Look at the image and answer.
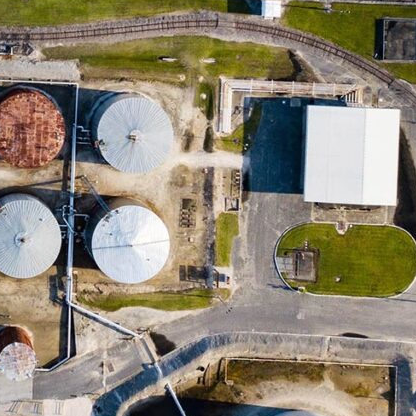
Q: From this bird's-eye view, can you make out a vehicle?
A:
No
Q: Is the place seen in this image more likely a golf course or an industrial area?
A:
industrial area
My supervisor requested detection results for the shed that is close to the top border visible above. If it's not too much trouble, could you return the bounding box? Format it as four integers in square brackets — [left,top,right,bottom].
[259,0,281,19]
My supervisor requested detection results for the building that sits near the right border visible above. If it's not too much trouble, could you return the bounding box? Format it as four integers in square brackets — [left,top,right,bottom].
[299,106,400,206]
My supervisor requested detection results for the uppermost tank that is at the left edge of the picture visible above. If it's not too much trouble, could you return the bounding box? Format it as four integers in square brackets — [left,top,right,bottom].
[0,85,66,167]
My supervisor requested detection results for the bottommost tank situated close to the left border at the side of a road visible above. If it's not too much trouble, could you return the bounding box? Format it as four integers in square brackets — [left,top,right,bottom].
[0,322,36,380]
